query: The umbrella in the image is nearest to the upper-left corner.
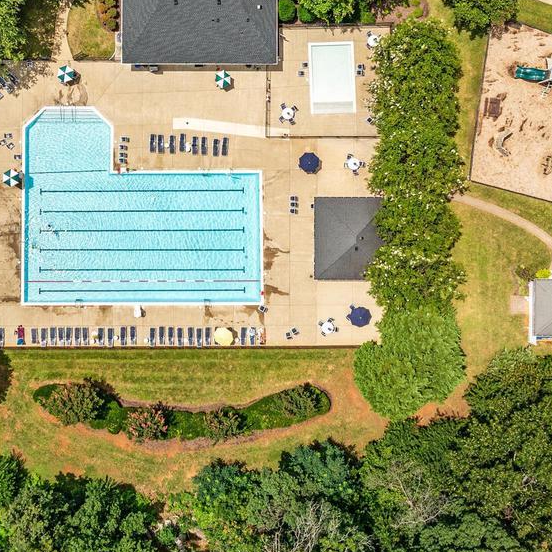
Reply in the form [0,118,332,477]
[57,66,77,84]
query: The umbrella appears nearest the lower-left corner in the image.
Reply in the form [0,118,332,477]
[213,326,233,347]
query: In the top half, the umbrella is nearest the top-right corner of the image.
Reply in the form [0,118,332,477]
[298,152,319,173]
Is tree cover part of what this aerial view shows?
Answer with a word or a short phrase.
Yes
